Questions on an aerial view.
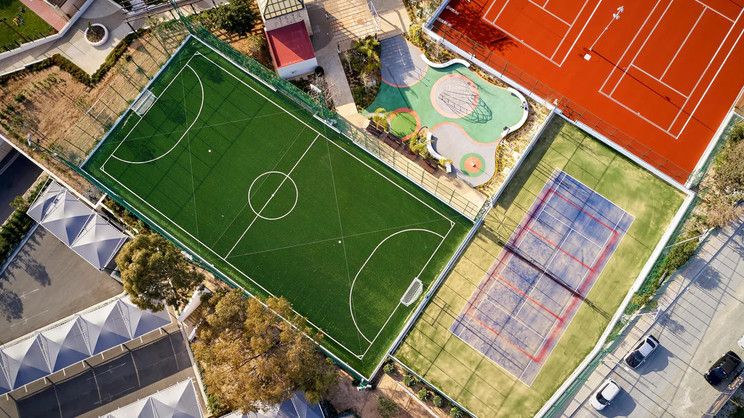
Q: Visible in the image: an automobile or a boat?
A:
automobile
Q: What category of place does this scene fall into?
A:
sports ground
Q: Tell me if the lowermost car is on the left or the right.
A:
right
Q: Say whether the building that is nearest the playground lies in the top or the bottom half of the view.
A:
top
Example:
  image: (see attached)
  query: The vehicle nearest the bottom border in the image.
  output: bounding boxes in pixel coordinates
[591,377,625,413]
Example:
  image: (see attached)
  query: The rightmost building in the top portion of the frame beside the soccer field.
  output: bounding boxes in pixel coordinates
[253,0,318,79]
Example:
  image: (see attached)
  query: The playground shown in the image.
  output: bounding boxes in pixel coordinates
[365,35,525,188]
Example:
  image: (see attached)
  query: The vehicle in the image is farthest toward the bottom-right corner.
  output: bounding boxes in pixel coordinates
[706,349,744,390]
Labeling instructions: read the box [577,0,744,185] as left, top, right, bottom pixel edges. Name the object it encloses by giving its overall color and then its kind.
orange tennis court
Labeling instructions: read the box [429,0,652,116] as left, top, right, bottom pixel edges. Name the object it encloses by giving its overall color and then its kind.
orange tennis court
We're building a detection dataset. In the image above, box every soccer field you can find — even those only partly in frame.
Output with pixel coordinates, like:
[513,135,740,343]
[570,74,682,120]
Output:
[82,37,477,379]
